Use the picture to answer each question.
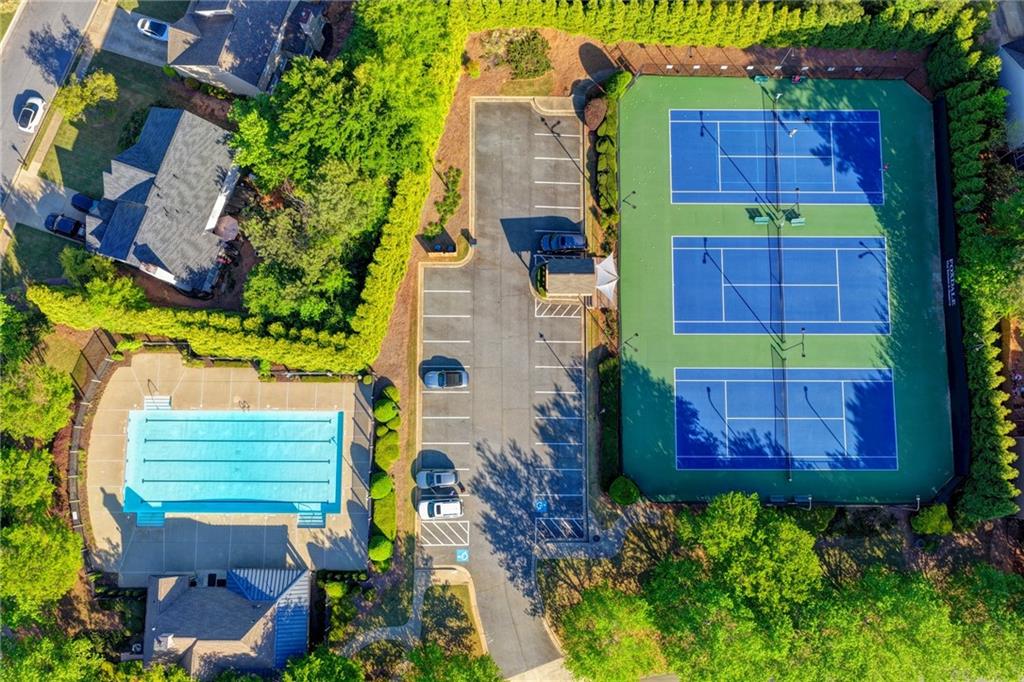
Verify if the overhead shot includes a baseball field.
No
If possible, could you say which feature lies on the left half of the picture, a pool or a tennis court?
pool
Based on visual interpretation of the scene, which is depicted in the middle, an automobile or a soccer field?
automobile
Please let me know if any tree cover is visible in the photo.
Yes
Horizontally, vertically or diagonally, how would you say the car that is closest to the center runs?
horizontally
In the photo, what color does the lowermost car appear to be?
white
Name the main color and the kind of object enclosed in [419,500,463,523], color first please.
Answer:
white car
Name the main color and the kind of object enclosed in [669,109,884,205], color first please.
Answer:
blue tennis court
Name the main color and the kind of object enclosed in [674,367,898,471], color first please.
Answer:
blue tennis court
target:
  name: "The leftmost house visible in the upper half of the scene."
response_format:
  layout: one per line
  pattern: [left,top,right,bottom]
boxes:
[86,107,240,286]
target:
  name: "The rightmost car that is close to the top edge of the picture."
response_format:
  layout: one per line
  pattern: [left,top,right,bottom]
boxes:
[133,15,171,41]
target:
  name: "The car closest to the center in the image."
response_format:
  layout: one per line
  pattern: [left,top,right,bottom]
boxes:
[424,369,468,389]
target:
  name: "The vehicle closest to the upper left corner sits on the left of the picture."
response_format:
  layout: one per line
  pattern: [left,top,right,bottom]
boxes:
[14,93,43,133]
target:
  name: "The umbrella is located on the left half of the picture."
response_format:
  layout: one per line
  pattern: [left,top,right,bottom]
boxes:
[217,217,240,240]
